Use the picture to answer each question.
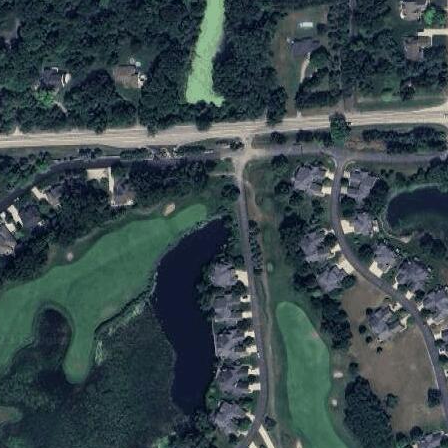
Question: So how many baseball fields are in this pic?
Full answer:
I count no baseball fields.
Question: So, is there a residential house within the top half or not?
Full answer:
Yes, a residential house is visible within the top half.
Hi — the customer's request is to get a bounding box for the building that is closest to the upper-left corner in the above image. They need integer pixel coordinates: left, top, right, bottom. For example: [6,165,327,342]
[39,68,64,89]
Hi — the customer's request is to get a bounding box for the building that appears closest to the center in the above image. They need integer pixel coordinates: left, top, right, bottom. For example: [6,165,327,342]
[210,261,237,287]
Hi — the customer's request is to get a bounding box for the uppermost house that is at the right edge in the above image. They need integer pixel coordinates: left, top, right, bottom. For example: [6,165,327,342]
[403,0,427,22]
